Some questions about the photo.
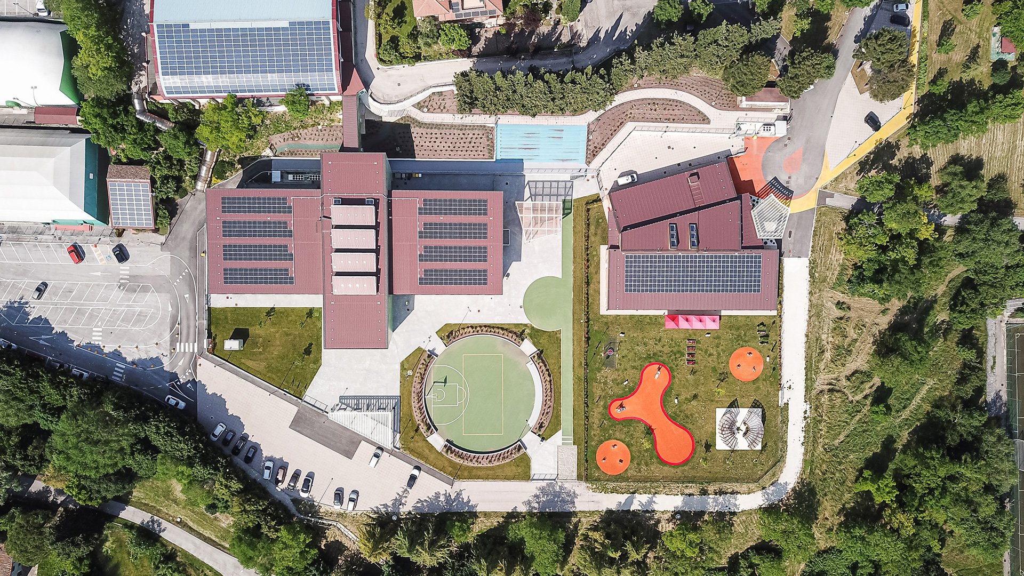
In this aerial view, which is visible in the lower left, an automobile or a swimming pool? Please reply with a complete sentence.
There is an automobile in the lower left.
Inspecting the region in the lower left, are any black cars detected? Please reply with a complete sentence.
Yes, there is a black car in the lower left.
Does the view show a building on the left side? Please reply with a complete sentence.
Yes, a building is visible on the left side.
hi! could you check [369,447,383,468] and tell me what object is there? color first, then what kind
white car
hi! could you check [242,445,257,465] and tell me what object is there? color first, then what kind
black car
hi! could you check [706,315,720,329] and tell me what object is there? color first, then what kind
pink gazebo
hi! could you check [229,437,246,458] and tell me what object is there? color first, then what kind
black car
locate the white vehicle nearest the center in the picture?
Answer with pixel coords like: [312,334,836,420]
[617,173,639,186]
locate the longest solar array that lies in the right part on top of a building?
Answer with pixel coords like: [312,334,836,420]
[625,254,762,293]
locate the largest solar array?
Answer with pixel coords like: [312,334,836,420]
[158,24,336,93]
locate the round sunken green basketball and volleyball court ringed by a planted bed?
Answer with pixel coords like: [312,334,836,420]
[424,338,536,449]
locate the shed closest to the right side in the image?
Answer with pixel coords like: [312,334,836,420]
[991,27,1022,60]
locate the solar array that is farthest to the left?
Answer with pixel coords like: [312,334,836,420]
[109,183,152,226]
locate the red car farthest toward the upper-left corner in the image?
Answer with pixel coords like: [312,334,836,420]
[67,244,82,264]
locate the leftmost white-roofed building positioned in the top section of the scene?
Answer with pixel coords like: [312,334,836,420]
[0,134,108,231]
